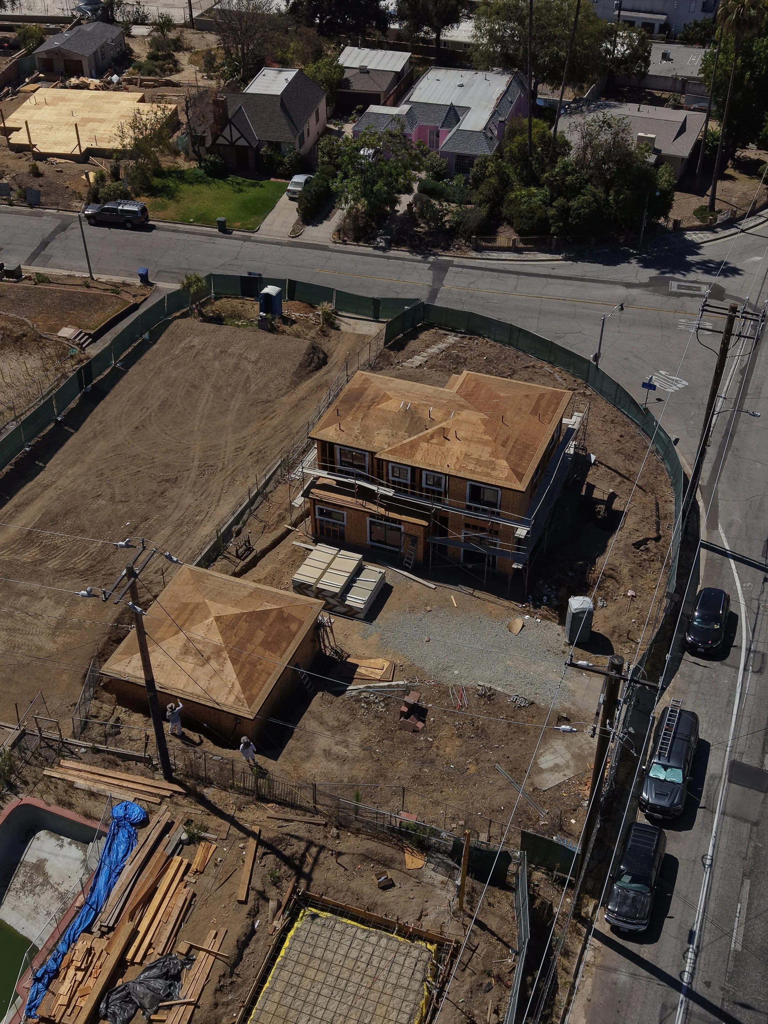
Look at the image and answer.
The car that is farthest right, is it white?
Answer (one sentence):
No, the color of the car that is farthest right is black.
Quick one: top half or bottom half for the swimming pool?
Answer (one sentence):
Seen from above, the swimming pool lies in the bottom half of the view.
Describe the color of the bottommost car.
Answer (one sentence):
The bottommost car is black.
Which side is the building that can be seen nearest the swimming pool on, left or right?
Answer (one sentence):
The building that can be seen nearest the swimming pool sits on the left side.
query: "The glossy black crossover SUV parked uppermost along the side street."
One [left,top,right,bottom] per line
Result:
[684,576,736,657]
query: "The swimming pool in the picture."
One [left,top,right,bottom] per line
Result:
[0,799,115,1024]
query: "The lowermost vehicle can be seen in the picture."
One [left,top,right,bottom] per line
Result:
[602,812,671,938]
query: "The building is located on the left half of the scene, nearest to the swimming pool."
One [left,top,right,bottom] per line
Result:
[98,567,326,756]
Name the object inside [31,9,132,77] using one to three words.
building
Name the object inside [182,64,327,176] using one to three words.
house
